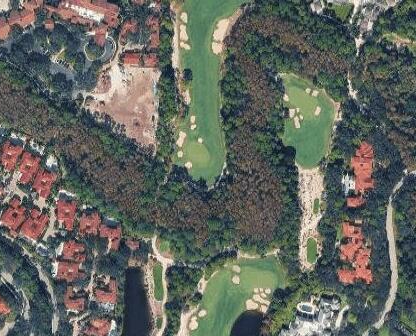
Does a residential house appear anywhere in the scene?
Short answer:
Yes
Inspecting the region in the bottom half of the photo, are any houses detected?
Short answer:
Yes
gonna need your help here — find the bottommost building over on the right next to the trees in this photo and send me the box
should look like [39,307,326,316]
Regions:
[276,295,342,336]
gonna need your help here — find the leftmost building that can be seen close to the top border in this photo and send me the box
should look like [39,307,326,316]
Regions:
[0,0,43,35]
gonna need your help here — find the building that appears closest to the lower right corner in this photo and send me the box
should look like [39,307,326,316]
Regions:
[337,267,374,285]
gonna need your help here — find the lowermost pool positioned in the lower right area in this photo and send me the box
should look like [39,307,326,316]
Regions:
[296,303,313,315]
